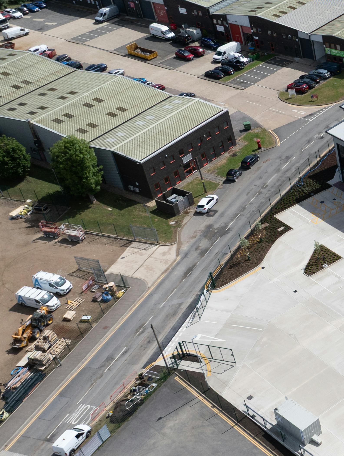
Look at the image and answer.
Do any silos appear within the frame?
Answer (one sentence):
No, I find no silo anywhere in the image.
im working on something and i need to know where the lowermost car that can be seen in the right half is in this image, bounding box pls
[193,195,222,212]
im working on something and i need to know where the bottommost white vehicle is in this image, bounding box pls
[49,426,94,456]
